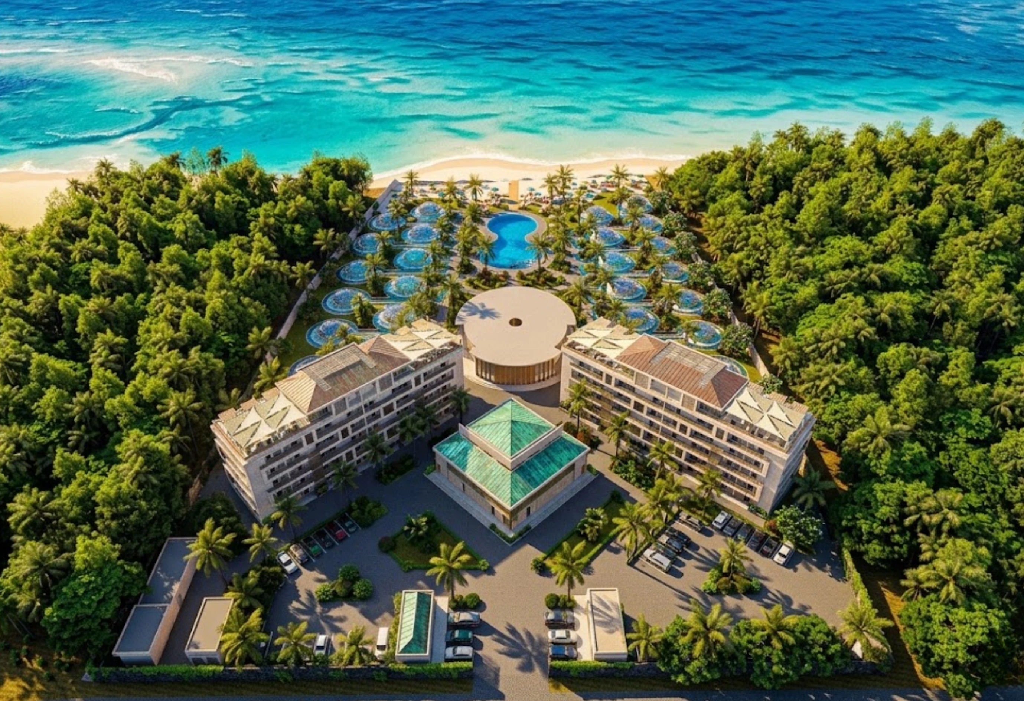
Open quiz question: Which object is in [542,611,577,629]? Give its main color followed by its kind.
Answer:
gray car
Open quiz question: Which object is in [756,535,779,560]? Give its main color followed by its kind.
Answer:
black car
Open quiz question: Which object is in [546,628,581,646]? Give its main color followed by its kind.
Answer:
white car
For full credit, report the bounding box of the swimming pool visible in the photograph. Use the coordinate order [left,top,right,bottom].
[480,212,544,270]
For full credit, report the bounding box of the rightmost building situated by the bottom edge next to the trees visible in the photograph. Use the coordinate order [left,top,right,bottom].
[588,587,627,666]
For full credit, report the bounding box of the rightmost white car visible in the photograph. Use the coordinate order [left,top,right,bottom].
[772,542,795,567]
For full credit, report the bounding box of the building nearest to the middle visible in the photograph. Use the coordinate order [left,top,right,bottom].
[454,290,576,392]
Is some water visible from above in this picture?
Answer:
Yes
